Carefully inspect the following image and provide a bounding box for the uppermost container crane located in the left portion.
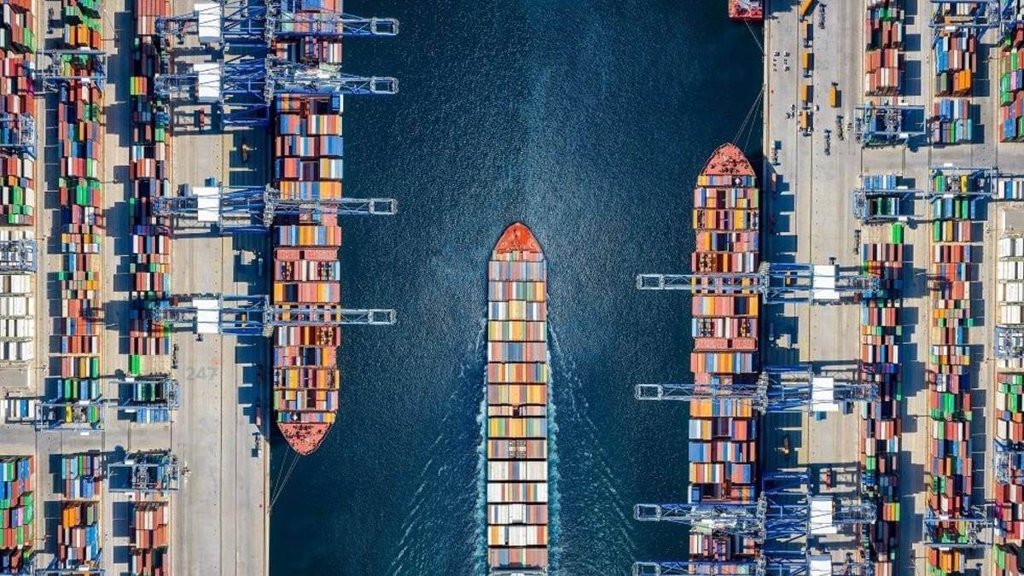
[153,5,395,64]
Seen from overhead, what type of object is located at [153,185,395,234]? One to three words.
container crane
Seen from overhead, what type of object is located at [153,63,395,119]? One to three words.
container crane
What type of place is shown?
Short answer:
port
